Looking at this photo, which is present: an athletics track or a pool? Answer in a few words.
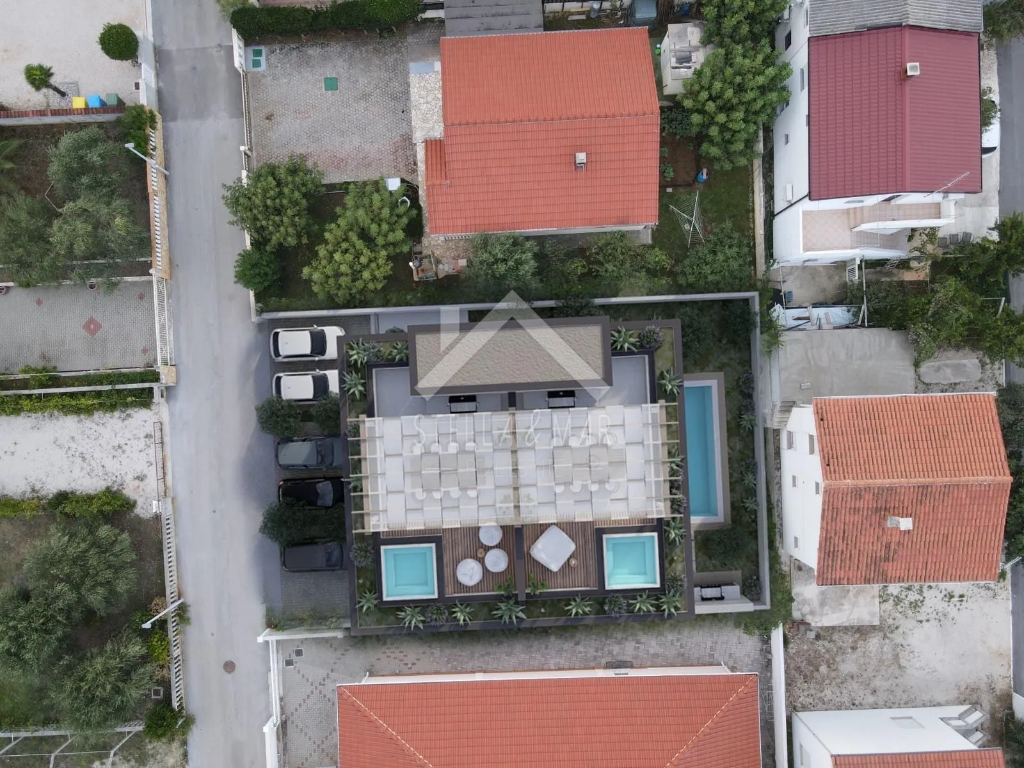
pool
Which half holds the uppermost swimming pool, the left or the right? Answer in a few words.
right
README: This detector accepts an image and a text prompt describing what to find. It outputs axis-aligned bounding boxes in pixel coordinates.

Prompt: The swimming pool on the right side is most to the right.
[683,372,731,530]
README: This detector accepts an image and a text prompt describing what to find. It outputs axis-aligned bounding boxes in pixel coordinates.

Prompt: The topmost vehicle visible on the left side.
[273,325,347,361]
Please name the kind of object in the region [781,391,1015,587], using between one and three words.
house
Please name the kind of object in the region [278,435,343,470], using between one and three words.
car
